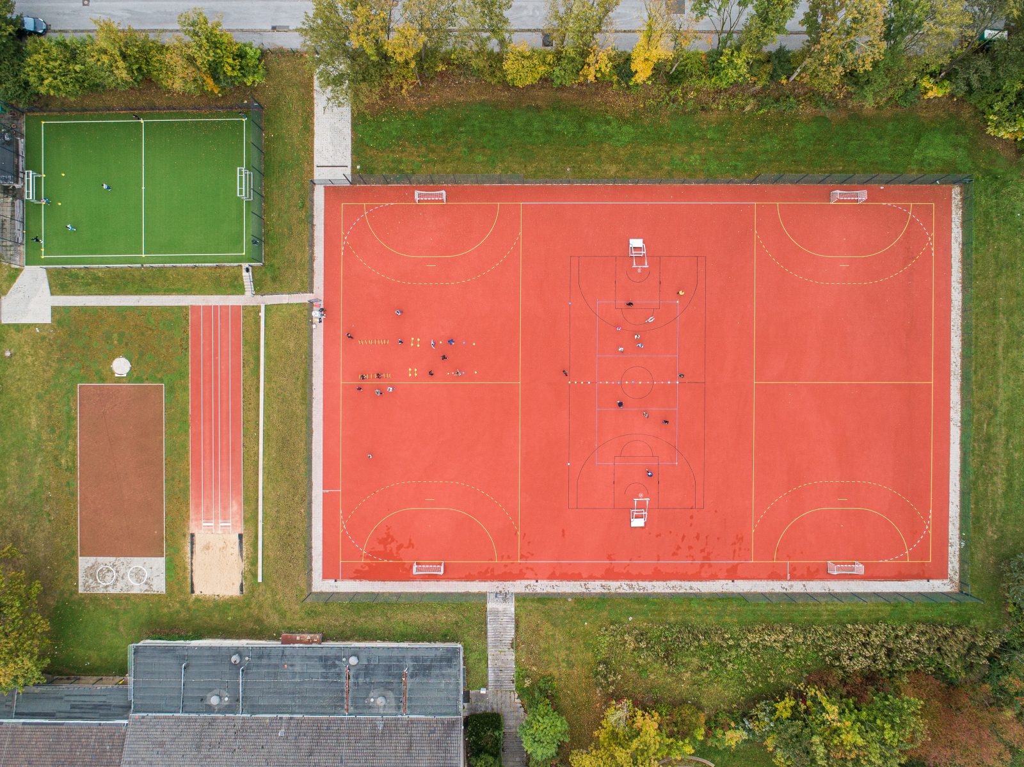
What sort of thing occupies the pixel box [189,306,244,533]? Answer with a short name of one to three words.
running track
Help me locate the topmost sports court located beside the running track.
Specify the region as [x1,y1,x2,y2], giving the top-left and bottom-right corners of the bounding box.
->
[322,184,953,580]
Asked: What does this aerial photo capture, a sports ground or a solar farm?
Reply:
sports ground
